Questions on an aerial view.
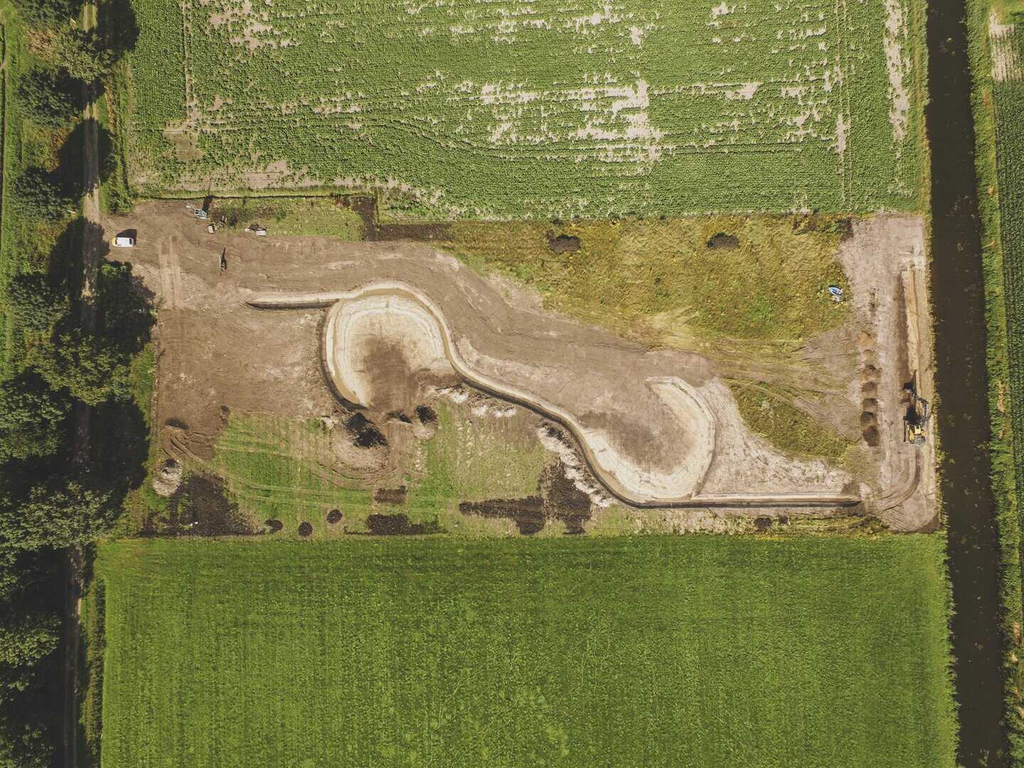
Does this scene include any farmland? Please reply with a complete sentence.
Yes, there is farmland in the image.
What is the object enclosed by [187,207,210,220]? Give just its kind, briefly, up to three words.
vehicle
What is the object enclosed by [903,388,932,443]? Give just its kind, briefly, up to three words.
work vehicle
